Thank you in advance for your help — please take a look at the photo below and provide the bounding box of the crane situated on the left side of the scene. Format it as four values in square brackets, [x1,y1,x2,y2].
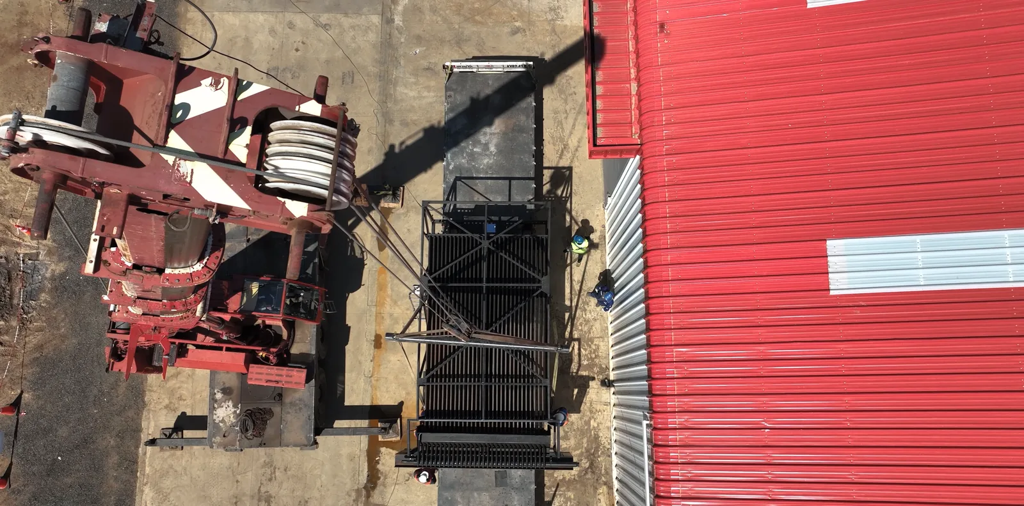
[0,0,397,454]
